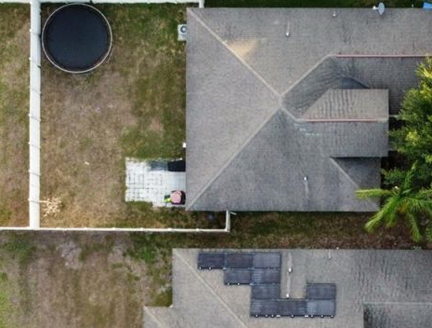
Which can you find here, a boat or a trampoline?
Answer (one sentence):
This aerial view contains a trampoline.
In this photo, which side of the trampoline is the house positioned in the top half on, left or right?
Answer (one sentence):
To the right of the trampoline is where the house positioned in the top half appears.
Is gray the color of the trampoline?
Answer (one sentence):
No, from above the trampoline looks black.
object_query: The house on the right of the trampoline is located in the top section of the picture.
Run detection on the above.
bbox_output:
[186,7,432,212]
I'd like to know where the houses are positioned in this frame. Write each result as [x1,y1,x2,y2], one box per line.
[186,7,432,212]
[143,248,432,328]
